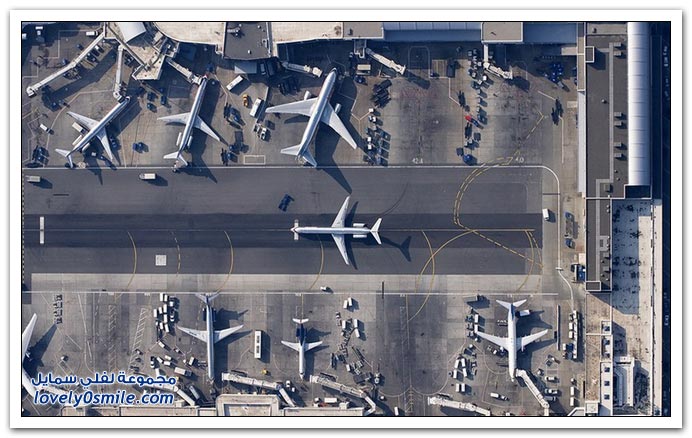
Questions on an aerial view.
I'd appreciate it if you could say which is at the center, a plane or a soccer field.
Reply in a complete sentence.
There is a plane at the center.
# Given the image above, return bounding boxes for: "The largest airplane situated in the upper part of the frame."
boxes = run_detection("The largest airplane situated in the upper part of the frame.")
[266,68,355,162]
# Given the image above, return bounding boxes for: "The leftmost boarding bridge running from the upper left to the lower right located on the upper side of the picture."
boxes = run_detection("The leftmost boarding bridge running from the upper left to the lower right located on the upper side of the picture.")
[164,58,203,83]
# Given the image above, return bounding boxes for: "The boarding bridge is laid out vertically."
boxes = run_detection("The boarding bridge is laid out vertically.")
[113,43,125,99]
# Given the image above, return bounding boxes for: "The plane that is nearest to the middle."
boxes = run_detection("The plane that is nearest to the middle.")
[291,197,382,264]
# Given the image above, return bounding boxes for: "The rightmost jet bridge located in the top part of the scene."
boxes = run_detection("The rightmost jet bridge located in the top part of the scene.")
[483,60,514,80]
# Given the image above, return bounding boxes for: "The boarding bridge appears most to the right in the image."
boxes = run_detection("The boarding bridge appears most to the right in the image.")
[513,370,550,424]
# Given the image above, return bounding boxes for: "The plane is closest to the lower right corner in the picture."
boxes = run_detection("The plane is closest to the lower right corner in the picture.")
[477,304,547,383]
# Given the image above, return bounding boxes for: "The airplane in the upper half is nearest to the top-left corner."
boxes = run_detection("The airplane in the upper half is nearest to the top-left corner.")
[55,97,131,168]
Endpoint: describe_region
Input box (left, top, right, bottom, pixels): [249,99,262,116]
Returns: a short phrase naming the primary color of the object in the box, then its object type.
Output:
white vehicle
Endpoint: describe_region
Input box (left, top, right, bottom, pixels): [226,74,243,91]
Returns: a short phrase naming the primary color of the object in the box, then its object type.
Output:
white vehicle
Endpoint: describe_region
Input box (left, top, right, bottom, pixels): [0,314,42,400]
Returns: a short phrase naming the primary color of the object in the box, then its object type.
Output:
white airplane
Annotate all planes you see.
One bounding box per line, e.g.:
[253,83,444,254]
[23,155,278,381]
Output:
[156,76,219,165]
[282,322,322,379]
[477,304,547,383]
[0,314,42,400]
[291,197,382,264]
[266,68,355,162]
[55,97,131,168]
[176,292,242,379]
